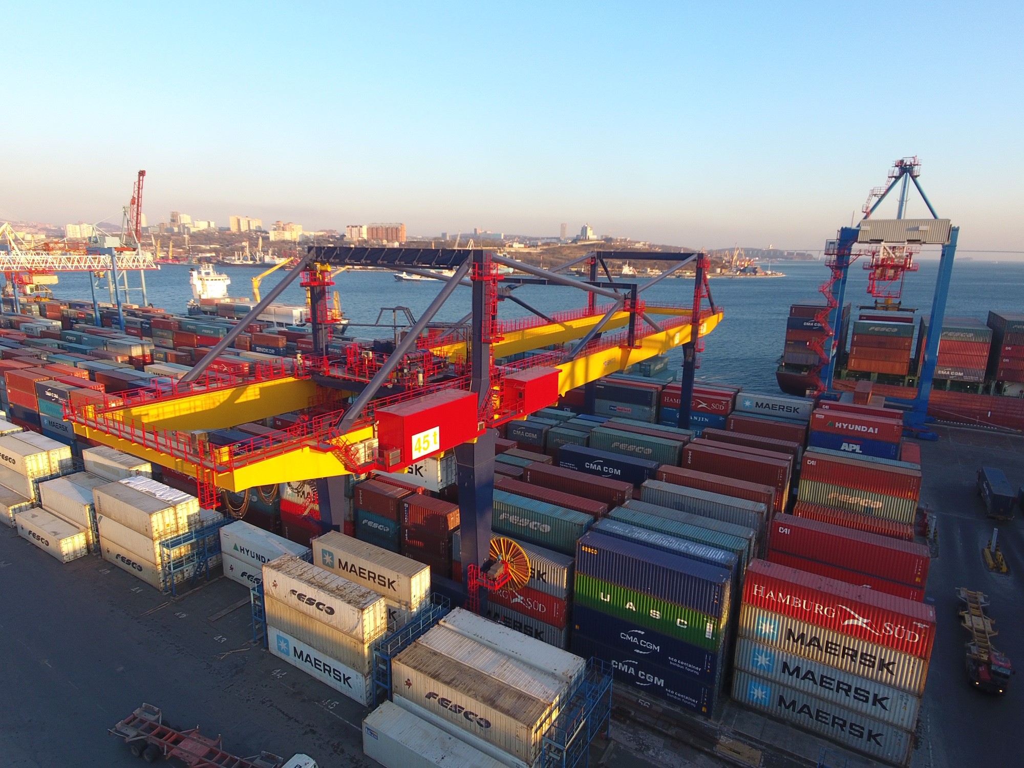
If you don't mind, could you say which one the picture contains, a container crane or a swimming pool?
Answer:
container crane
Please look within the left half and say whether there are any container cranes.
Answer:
Yes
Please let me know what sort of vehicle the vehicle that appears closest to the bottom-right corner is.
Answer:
truck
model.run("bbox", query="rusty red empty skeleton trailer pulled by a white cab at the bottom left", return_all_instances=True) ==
[101,700,323,768]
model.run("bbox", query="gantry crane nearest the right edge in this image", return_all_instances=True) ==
[805,152,957,440]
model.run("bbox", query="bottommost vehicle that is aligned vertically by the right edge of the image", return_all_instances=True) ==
[959,578,1009,688]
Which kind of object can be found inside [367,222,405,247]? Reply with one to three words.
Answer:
building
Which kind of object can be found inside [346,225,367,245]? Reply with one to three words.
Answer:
building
